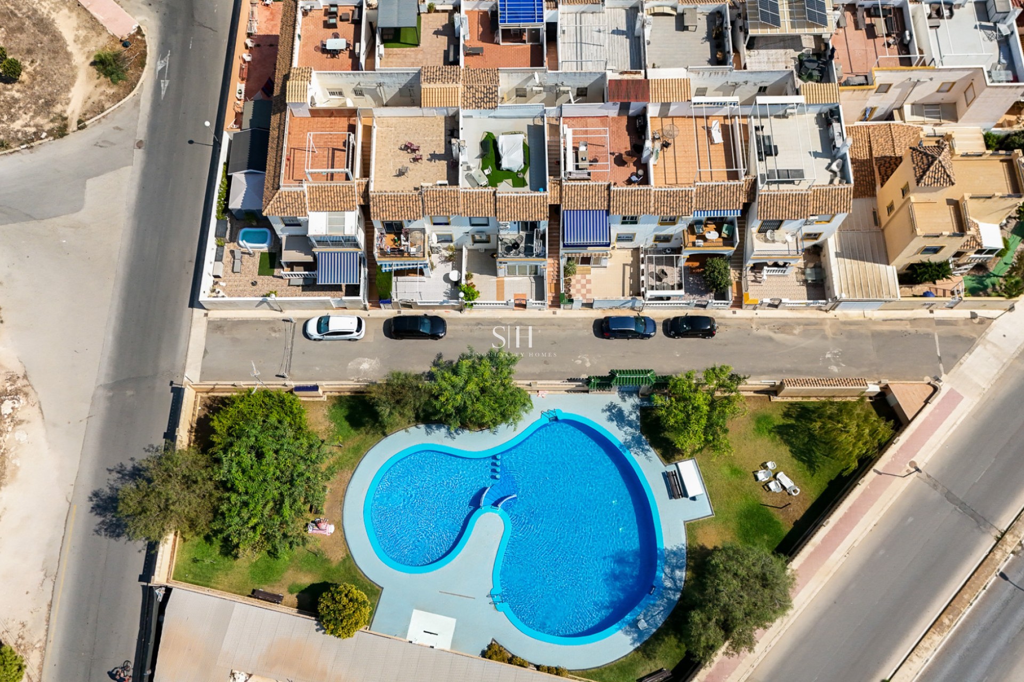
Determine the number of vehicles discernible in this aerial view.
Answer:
4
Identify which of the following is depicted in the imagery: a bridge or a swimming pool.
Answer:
swimming pool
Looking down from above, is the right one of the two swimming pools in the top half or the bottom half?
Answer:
bottom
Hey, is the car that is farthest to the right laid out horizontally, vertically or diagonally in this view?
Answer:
horizontally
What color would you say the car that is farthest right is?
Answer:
black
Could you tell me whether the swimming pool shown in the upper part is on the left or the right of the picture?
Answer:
left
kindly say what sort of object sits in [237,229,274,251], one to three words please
swimming pool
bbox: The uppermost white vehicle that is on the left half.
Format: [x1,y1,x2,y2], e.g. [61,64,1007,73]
[308,314,366,342]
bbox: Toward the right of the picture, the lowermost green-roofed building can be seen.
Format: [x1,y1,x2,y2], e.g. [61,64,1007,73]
[586,367,690,405]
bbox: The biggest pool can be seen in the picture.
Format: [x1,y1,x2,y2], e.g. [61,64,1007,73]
[363,407,665,647]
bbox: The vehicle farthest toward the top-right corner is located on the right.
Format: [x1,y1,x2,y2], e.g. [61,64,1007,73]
[666,314,718,341]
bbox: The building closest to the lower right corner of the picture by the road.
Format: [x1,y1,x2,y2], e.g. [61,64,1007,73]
[877,383,938,424]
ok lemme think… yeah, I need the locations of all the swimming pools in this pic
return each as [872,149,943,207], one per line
[237,229,274,251]
[363,407,665,647]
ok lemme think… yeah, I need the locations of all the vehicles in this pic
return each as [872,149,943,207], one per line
[666,314,718,341]
[390,313,448,341]
[308,314,366,342]
[601,314,657,342]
